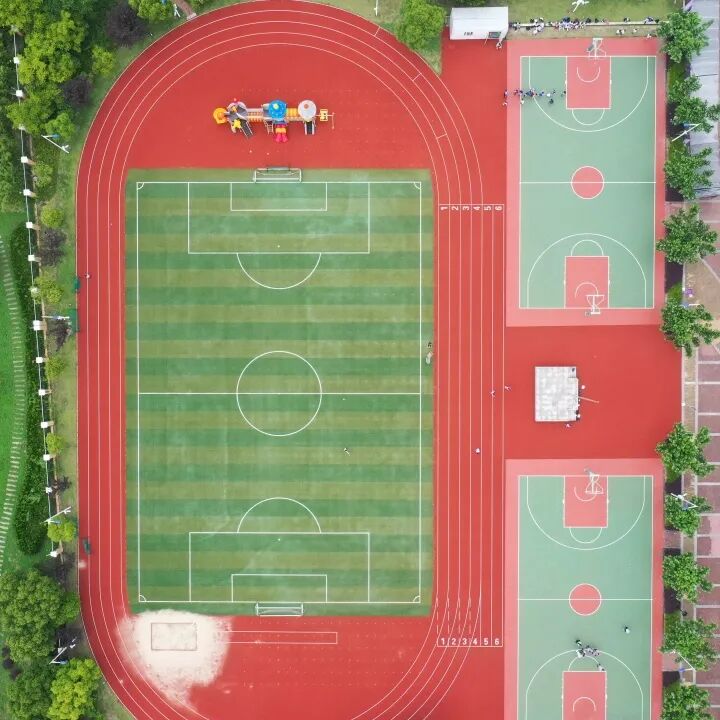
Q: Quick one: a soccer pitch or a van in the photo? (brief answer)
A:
soccer pitch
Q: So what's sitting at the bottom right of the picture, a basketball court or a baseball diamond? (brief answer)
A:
basketball court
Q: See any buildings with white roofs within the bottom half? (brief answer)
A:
No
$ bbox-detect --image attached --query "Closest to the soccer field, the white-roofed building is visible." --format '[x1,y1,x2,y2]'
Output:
[450,6,508,46]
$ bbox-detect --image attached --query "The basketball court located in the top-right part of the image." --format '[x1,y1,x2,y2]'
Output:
[506,37,667,326]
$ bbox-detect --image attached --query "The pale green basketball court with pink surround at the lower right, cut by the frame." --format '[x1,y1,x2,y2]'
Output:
[503,458,664,720]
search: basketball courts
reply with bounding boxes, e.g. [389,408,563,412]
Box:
[506,37,667,326]
[503,458,664,720]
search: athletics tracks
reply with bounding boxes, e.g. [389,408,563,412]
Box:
[76,0,505,720]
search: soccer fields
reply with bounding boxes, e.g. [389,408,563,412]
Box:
[124,168,435,617]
